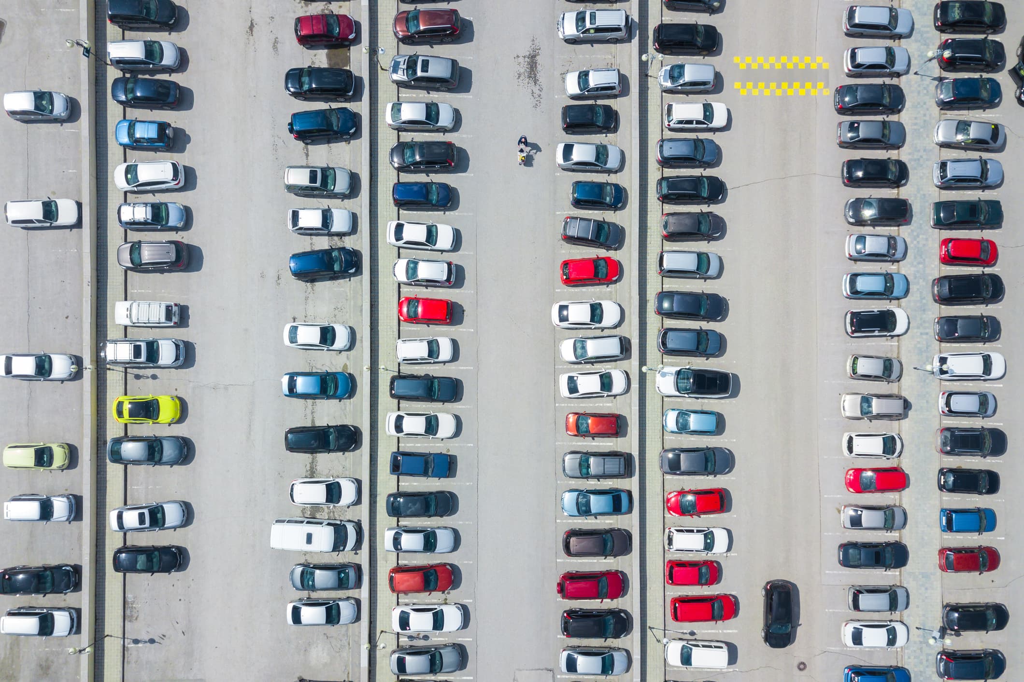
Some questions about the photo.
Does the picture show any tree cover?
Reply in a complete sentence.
No, the picture contains no tree cover.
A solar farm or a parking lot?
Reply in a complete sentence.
This looks like a parking lot.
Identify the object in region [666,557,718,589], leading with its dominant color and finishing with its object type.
red car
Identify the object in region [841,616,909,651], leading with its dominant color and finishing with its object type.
white car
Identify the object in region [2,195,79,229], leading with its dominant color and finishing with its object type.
white car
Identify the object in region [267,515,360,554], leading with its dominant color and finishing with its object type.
white van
